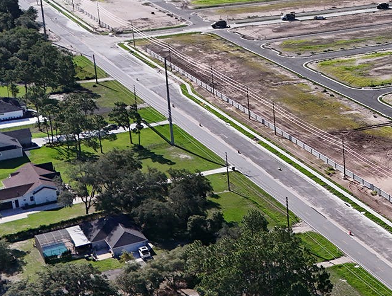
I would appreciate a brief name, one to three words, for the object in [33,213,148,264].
building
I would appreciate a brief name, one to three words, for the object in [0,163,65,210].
house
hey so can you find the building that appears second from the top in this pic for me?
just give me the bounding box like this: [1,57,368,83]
[0,129,35,160]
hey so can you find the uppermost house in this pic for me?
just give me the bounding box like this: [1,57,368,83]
[0,98,26,120]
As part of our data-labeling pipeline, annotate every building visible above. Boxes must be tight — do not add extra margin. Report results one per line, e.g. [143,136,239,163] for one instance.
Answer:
[0,163,65,210]
[33,213,148,264]
[0,129,35,160]
[0,98,26,120]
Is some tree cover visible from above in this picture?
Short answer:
Yes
